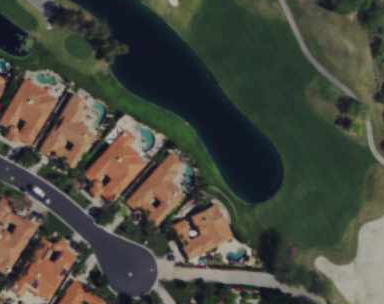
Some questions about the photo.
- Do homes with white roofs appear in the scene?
No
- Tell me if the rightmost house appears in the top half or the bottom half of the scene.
bottom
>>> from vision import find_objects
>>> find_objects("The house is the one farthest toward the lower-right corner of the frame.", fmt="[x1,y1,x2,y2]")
[174,203,235,260]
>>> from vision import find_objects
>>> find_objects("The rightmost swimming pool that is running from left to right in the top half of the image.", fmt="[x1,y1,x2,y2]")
[36,72,60,86]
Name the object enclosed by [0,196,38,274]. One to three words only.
house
